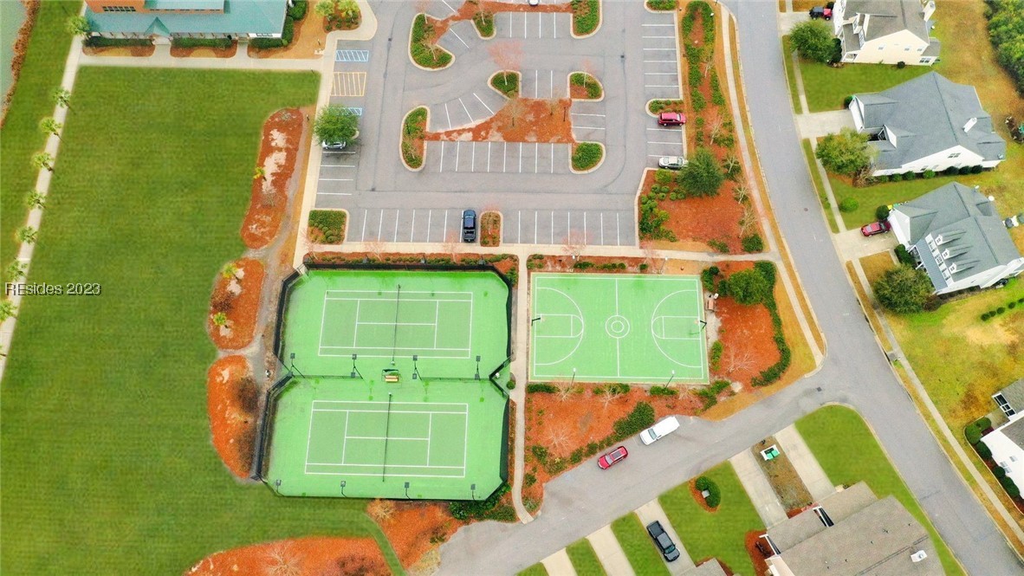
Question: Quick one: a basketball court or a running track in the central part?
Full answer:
It is a basketball court that can be seen in the central part.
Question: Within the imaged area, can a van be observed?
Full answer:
Yes, the frame does contain a van.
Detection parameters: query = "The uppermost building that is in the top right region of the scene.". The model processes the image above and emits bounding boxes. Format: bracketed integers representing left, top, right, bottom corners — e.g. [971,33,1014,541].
[833,0,940,66]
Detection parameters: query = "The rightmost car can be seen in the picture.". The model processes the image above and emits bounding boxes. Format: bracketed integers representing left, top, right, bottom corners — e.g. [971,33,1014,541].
[859,219,890,236]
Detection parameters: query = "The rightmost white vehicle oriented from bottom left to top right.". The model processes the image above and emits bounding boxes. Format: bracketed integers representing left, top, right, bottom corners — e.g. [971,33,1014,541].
[641,417,681,447]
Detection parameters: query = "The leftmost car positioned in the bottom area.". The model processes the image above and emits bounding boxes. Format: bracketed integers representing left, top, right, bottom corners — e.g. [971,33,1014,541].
[597,444,630,470]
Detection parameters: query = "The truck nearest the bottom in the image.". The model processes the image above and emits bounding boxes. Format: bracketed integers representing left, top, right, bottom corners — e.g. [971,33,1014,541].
[647,520,680,563]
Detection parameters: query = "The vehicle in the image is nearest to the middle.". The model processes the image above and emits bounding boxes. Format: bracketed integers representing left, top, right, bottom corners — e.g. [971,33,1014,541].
[462,211,477,242]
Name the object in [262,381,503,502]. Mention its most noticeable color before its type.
green tennis court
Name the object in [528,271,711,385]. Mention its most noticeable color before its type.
green basketball court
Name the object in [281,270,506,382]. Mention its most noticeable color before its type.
green tennis court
